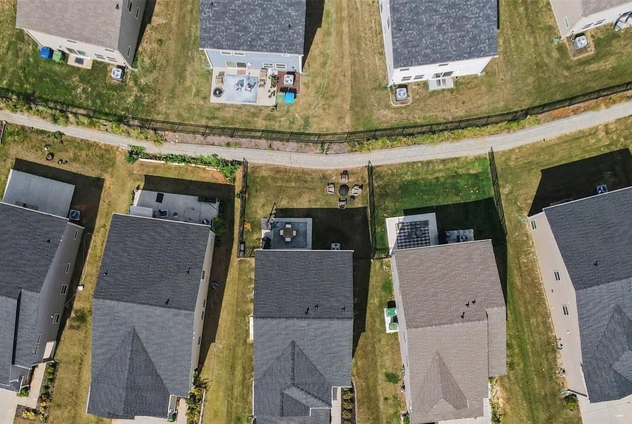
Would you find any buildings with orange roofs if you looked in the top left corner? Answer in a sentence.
No, there is no building with an orange roof in the top left corner.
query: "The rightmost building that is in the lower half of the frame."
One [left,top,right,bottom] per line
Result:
[527,186,632,403]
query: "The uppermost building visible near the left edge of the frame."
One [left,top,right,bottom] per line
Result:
[17,0,145,69]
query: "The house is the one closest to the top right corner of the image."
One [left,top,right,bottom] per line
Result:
[544,0,632,39]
